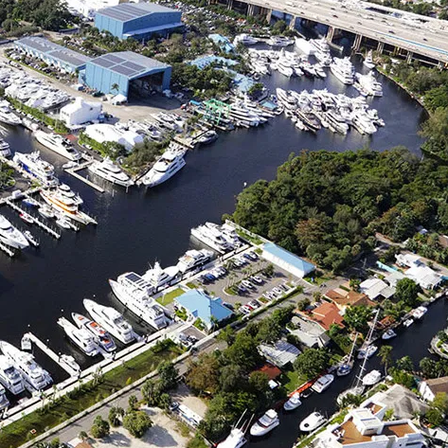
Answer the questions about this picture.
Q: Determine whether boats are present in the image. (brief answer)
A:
Yes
